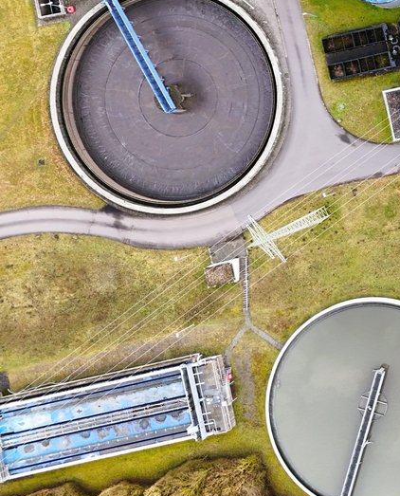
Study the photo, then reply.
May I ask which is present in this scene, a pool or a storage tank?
storage tank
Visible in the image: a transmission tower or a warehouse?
transmission tower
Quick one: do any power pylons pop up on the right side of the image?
Yes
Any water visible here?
Yes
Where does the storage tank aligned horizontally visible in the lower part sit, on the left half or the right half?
left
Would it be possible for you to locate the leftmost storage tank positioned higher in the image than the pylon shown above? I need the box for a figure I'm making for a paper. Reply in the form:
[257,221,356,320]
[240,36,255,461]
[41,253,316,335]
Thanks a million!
[51,0,283,214]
